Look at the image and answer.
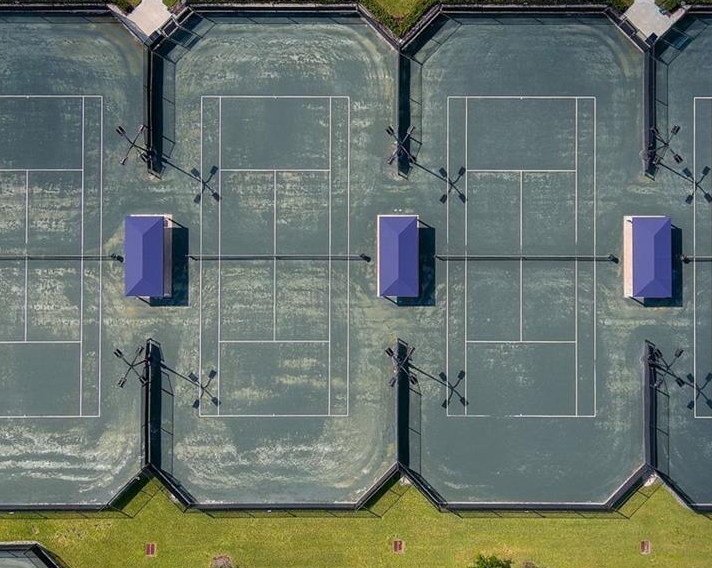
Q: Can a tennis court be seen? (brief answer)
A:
Yes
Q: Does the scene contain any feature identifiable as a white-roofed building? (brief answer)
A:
No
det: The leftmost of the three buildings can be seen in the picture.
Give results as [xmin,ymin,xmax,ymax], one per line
[125,214,172,297]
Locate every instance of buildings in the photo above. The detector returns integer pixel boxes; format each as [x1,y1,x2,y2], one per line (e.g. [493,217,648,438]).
[624,215,671,297]
[377,215,419,297]
[125,214,172,297]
